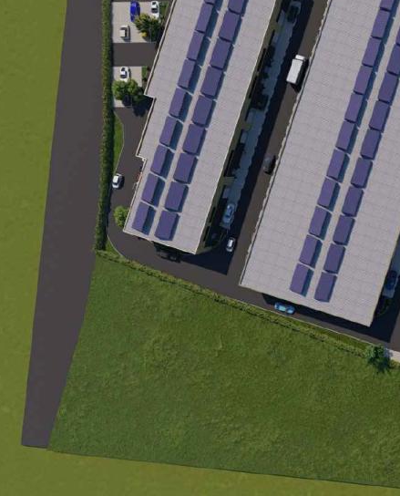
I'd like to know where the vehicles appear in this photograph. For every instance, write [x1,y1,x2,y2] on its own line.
[149,0,160,19]
[226,237,236,253]
[113,173,124,190]
[130,1,140,22]
[385,270,399,292]
[222,204,235,226]
[120,66,130,82]
[263,154,276,174]
[274,302,295,315]
[119,22,130,44]
[287,57,307,88]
